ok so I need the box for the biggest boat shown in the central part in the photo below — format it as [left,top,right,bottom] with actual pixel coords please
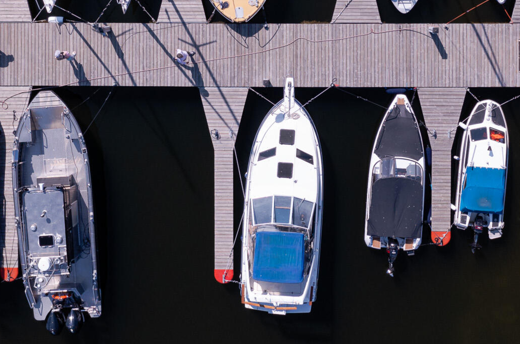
[238,74,325,314]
